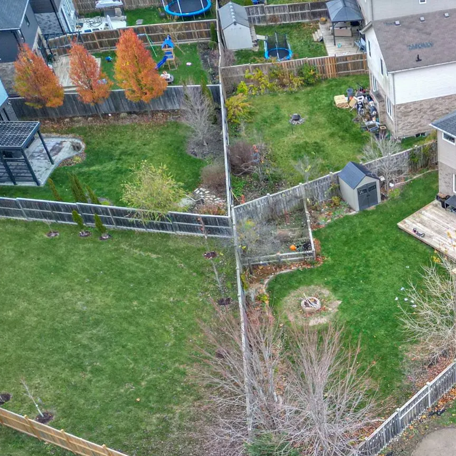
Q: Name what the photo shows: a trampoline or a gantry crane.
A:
trampoline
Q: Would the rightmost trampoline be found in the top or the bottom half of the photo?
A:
top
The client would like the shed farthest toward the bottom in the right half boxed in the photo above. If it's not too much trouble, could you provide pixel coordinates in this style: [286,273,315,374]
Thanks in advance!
[334,158,381,211]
